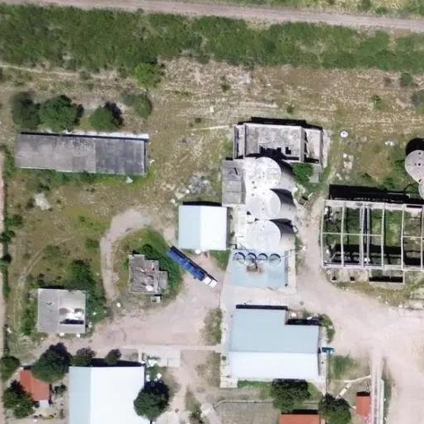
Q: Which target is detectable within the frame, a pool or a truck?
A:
truck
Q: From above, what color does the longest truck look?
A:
blue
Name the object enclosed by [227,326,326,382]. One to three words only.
shed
